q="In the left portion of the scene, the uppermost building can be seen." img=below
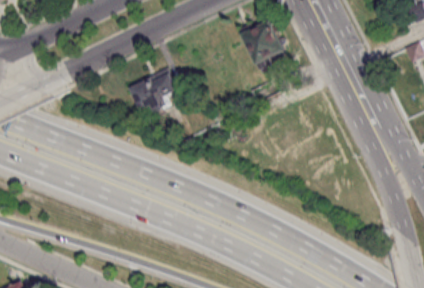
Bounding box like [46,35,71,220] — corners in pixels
[127,67,176,110]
